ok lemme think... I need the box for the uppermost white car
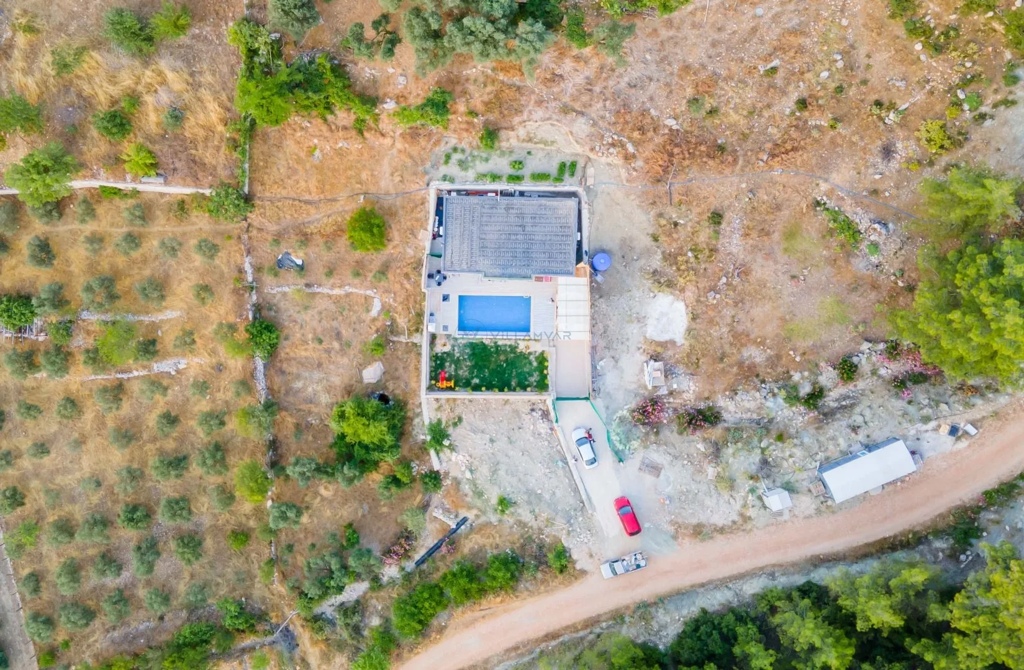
[571,427,600,473]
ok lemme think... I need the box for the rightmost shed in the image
[814,438,915,504]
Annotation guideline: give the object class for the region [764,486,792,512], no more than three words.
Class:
shed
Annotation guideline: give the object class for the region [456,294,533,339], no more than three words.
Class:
swimming pool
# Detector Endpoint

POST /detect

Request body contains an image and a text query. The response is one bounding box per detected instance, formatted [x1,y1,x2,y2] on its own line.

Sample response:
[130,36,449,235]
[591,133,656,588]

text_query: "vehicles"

[616,497,642,540]
[571,427,600,473]
[600,554,650,581]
